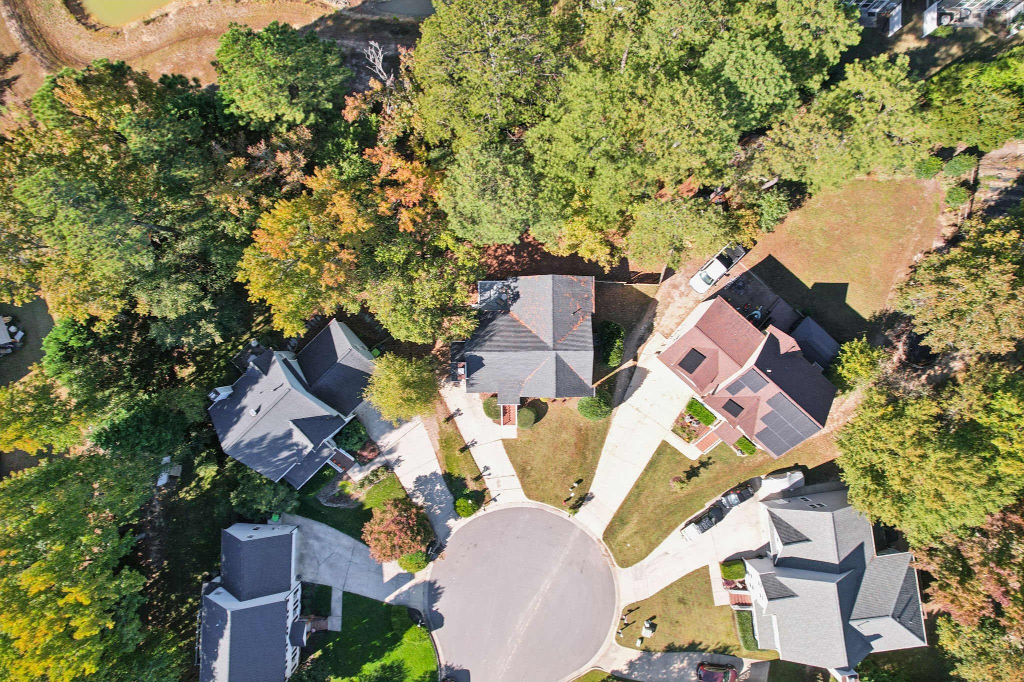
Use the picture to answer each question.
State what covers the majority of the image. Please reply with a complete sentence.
The largest share of the image is taken up by trees.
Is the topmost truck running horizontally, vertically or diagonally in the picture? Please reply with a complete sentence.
The topmost truck runs diagonally in the image.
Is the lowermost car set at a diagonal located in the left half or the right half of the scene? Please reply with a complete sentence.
The lowermost car set at a diagonal is on the right side of the image.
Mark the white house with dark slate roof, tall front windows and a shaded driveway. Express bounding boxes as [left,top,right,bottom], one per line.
[198,525,328,682]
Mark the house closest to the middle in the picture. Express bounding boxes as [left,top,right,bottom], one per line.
[451,274,597,427]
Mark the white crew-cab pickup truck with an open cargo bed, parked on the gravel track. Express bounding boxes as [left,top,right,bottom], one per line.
[696,241,750,293]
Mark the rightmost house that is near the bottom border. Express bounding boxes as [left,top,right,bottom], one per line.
[729,495,927,682]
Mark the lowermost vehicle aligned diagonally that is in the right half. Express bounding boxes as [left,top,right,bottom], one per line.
[683,506,728,545]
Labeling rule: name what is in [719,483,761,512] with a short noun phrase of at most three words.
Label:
car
